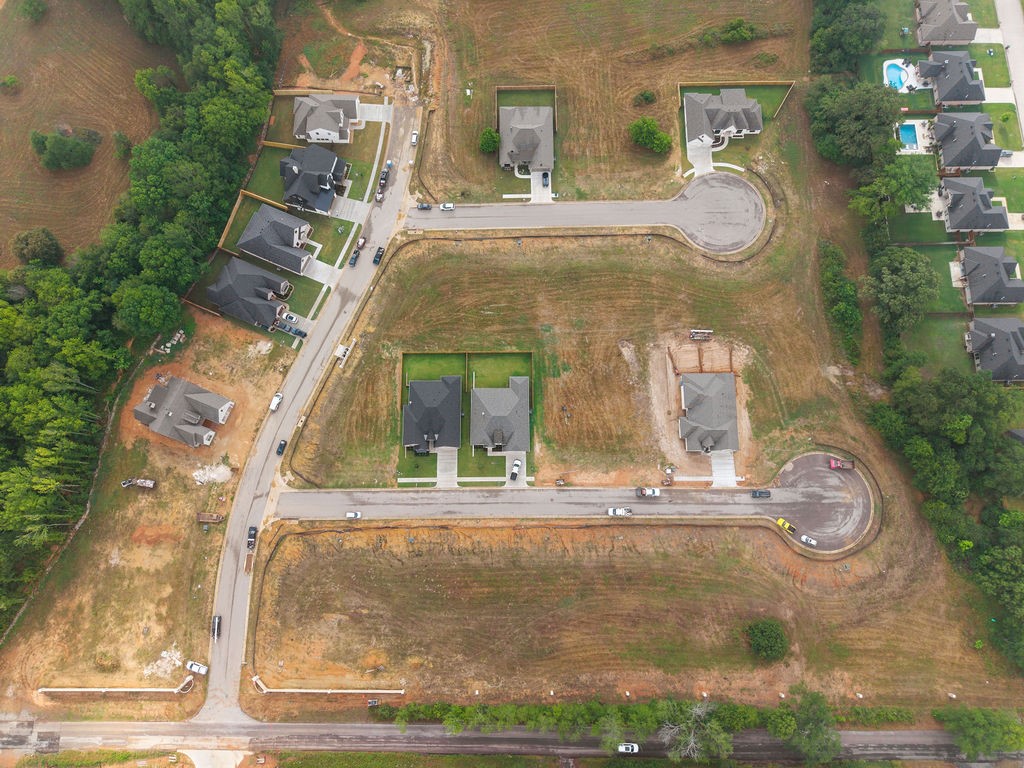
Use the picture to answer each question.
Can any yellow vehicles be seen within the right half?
Yes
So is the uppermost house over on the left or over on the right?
right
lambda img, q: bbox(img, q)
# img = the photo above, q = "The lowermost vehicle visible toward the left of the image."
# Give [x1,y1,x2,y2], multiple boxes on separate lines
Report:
[187,659,210,675]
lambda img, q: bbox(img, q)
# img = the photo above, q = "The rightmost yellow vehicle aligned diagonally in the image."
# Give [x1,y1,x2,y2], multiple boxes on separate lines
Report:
[775,517,796,536]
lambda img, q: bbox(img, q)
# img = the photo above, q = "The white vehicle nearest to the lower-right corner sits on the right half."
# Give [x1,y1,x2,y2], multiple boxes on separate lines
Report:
[799,533,817,548]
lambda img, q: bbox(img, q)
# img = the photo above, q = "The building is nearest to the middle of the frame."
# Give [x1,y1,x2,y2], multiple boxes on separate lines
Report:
[470,376,530,451]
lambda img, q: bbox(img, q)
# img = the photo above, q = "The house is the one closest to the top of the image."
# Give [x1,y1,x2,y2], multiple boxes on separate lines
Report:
[913,0,977,47]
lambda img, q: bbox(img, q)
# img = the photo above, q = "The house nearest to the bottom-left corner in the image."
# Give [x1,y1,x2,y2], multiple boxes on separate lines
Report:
[129,376,237,448]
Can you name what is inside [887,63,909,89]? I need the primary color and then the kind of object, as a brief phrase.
blue swimming pool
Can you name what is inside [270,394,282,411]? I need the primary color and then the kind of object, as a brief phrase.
white vehicle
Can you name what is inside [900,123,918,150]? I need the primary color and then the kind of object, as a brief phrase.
blue swimming pool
